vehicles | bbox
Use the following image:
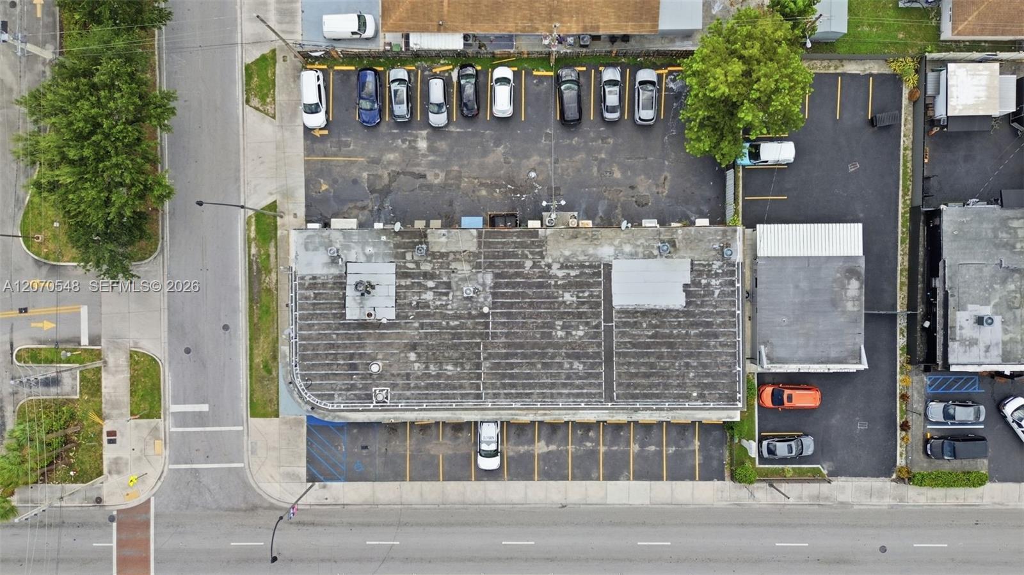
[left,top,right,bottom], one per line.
[923,400,986,426]
[322,11,377,42]
[555,69,583,126]
[355,69,382,127]
[599,68,625,122]
[300,70,328,130]
[425,76,449,128]
[456,66,482,119]
[735,140,795,166]
[757,384,822,411]
[490,67,516,119]
[998,395,1024,447]
[924,434,990,462]
[386,69,413,123]
[633,69,660,126]
[475,421,502,470]
[757,433,813,460]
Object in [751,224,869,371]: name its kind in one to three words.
building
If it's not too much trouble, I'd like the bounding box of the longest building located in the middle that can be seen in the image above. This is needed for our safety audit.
[282,217,746,421]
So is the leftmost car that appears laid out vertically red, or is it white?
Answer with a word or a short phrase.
white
